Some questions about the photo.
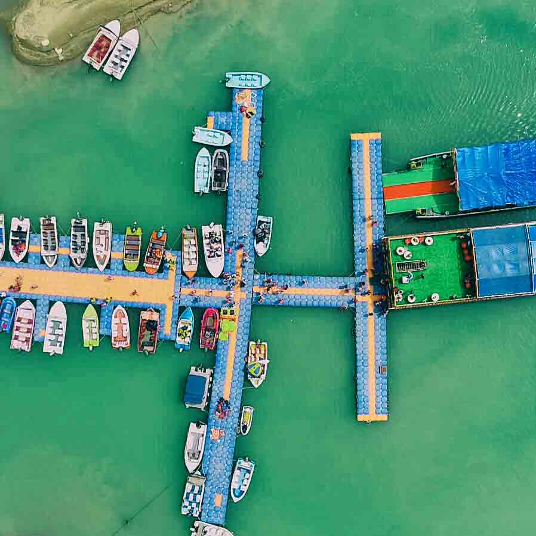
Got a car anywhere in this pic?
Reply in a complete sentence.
No, there's no car here.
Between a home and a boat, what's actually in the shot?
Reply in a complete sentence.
Looking from above, you can make out a boat.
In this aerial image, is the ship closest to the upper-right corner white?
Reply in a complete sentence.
No, from above the ship closest to the upper-right corner looks blue.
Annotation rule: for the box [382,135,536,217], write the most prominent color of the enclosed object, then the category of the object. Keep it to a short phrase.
blue ship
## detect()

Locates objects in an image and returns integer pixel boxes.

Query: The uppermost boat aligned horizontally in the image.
[222,72,271,88]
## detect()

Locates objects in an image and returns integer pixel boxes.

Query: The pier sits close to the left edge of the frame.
[0,233,181,342]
